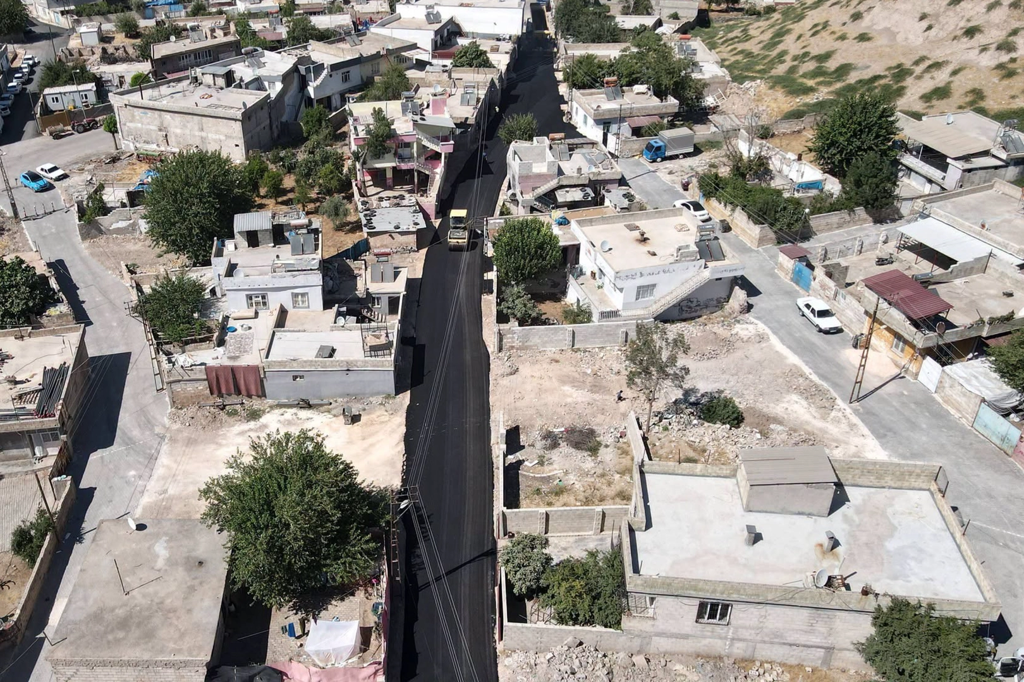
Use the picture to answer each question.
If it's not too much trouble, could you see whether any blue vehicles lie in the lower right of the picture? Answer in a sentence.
No, there is no blue vehicle in the lower right of the picture.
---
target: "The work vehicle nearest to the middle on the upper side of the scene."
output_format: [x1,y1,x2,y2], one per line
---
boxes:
[445,212,470,255]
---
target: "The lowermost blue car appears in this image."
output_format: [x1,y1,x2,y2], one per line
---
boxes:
[17,171,50,192]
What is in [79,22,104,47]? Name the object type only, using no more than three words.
shed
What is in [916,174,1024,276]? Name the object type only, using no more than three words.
house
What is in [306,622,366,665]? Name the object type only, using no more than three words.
tent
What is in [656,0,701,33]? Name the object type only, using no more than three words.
house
